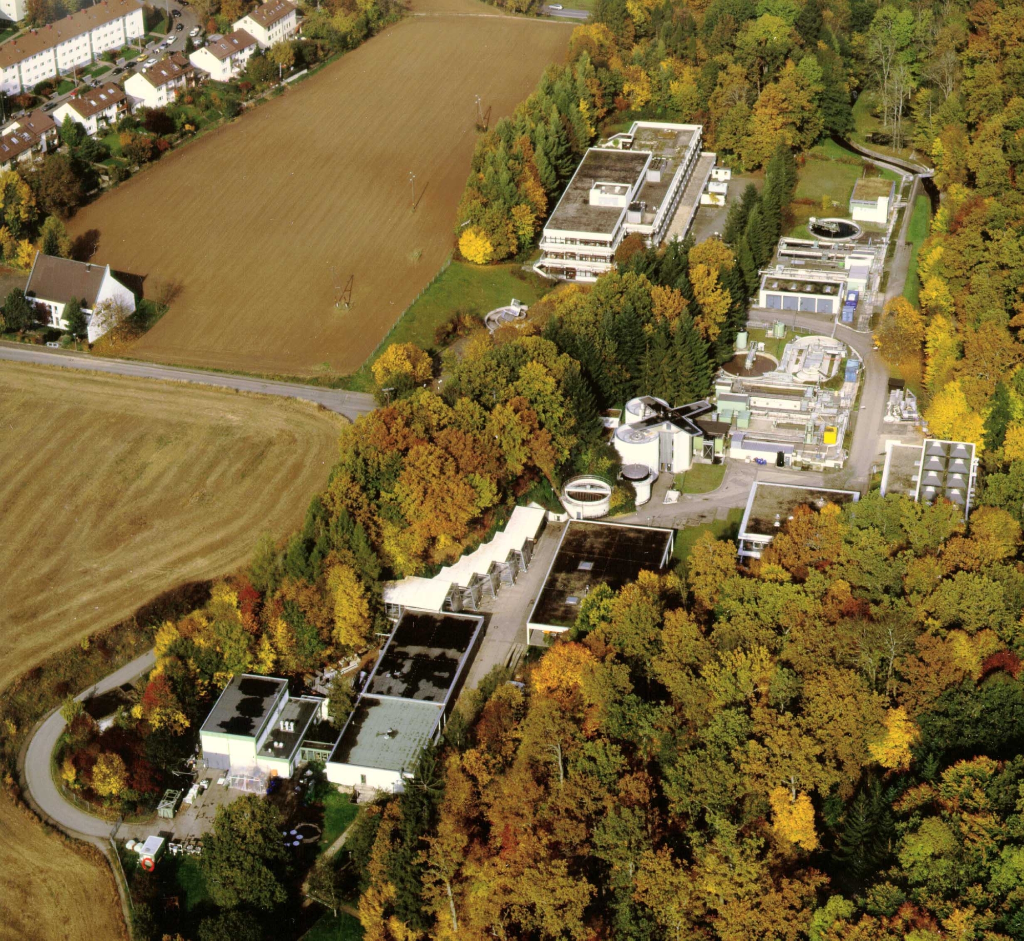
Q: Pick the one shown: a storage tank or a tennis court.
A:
storage tank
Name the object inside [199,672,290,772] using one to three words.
building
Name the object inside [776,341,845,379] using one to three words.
storage tank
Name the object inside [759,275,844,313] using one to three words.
building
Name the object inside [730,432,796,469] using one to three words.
shed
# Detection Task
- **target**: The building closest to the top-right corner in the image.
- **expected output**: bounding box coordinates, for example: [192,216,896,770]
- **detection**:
[849,178,899,222]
